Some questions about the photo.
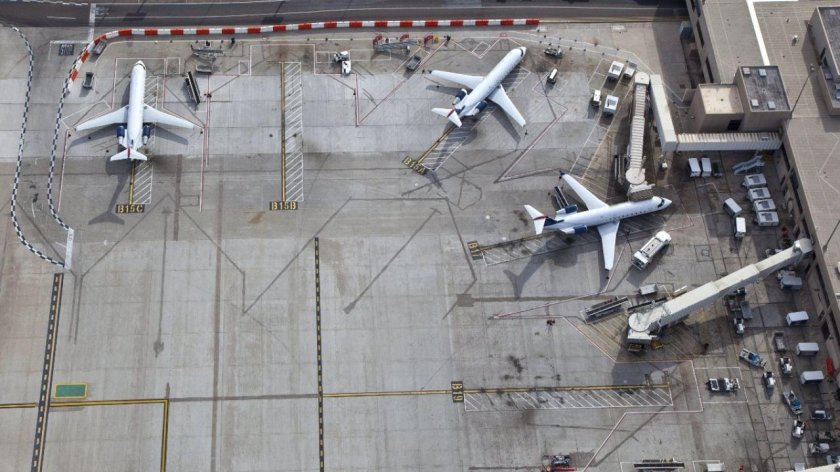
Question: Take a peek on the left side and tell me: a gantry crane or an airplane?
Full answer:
Looking on the left side, you will find an airplane.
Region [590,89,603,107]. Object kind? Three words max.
vehicle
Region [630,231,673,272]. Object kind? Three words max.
truck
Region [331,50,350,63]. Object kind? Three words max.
vehicle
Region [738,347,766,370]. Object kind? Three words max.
work vehicle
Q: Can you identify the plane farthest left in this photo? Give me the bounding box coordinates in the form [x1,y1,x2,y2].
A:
[73,62,195,167]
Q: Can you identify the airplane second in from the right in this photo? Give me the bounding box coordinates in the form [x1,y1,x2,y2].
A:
[427,46,527,129]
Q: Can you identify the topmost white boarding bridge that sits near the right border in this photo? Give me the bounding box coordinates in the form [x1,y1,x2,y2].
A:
[627,231,819,355]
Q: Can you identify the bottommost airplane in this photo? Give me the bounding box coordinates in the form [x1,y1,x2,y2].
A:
[522,168,672,271]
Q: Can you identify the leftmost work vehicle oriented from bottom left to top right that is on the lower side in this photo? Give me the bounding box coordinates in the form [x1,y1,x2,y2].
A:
[583,293,632,328]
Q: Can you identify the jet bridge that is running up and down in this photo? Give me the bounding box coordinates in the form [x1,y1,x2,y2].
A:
[611,69,651,202]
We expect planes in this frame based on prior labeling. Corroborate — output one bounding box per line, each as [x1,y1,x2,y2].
[73,62,195,167]
[427,46,527,129]
[522,168,672,271]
